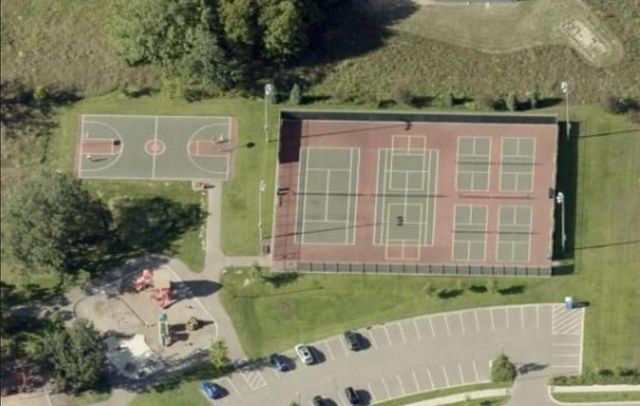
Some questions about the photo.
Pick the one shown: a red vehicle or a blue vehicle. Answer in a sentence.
It is a blue vehicle that can be seen here.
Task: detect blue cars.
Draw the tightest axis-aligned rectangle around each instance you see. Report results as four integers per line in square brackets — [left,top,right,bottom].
[269,353,289,372]
[203,380,222,401]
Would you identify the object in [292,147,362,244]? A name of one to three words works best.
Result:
tennis court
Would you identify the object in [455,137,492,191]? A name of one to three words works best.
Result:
sports court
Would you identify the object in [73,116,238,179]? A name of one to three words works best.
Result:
basketball court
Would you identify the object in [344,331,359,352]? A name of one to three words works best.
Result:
car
